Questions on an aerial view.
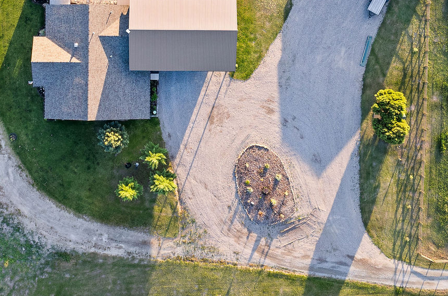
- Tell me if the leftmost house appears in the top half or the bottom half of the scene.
top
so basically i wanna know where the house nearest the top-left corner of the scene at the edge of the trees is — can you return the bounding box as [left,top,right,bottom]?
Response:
[29,3,150,121]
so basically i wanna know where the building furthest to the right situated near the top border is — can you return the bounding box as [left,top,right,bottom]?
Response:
[127,0,236,71]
